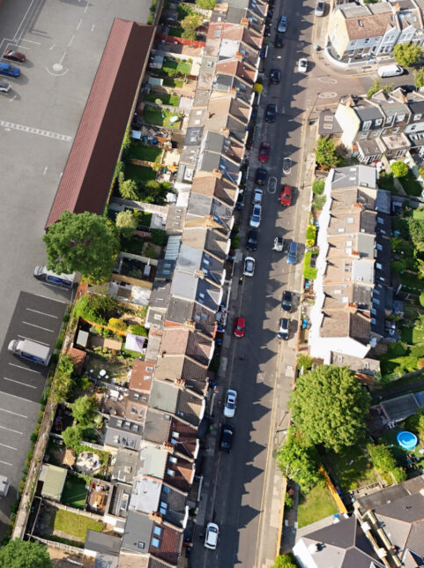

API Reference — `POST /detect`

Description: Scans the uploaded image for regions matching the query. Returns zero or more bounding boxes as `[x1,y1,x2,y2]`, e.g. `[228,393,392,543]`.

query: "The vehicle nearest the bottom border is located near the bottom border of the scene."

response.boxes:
[204,522,220,551]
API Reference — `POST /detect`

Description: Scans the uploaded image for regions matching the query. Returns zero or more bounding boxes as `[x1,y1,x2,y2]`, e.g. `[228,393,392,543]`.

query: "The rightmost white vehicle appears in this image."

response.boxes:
[376,64,402,78]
